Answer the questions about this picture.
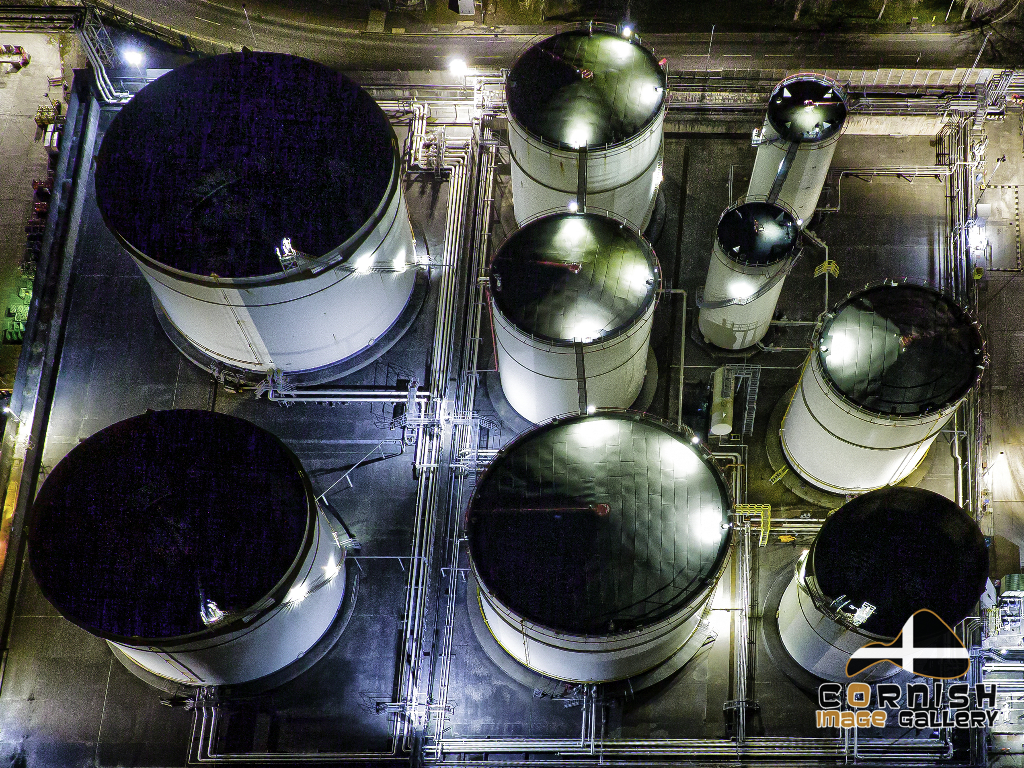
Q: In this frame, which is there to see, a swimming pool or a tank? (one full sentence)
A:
This aerial view contains a tank.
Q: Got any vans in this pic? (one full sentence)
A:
No, there's no van here.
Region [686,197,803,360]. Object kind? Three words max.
storage tank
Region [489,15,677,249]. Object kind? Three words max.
storage tank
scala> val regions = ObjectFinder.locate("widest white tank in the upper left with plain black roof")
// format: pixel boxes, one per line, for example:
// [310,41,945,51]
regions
[96,49,438,392]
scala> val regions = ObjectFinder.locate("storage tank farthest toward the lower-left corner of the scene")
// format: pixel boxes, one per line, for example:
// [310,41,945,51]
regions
[36,400,361,712]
